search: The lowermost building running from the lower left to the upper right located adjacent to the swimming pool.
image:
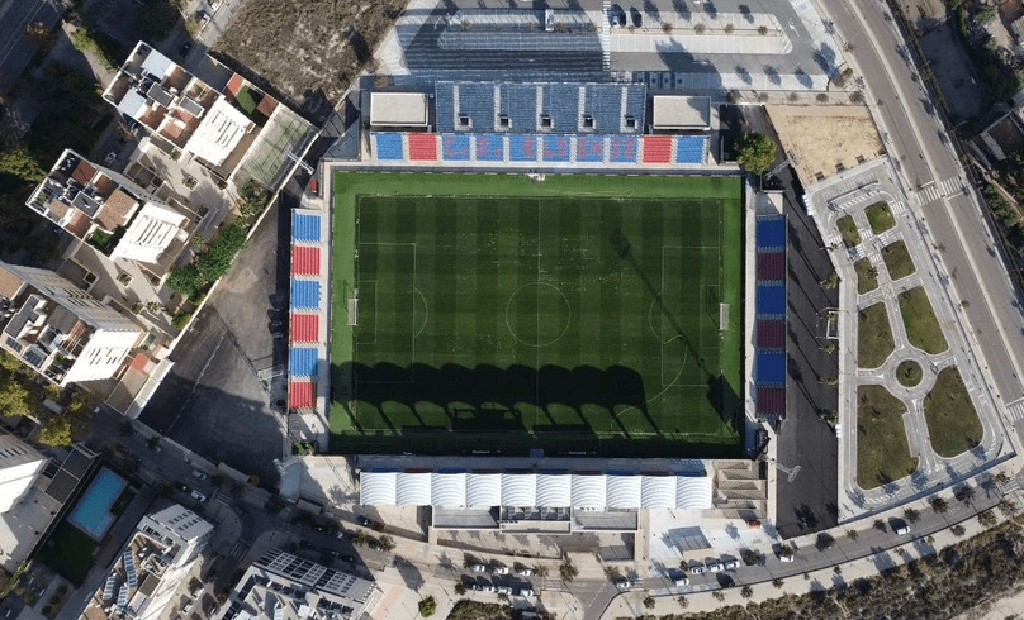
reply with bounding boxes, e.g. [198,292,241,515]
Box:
[75,503,212,620]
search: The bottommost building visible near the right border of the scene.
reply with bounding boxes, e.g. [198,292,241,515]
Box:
[989,115,1024,168]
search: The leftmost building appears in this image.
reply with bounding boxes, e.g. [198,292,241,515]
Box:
[0,428,44,514]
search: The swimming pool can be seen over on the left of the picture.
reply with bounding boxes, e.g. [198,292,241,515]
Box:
[68,466,128,539]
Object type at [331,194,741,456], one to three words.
soccer field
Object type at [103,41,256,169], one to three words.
building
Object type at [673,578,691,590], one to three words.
vehicle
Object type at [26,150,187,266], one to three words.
building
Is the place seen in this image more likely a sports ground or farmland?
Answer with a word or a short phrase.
sports ground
